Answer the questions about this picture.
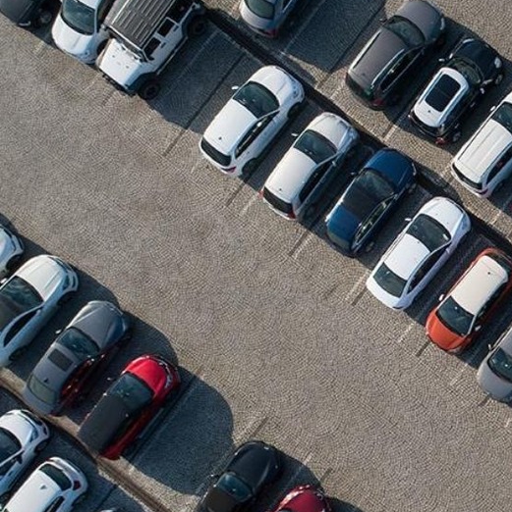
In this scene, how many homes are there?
0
